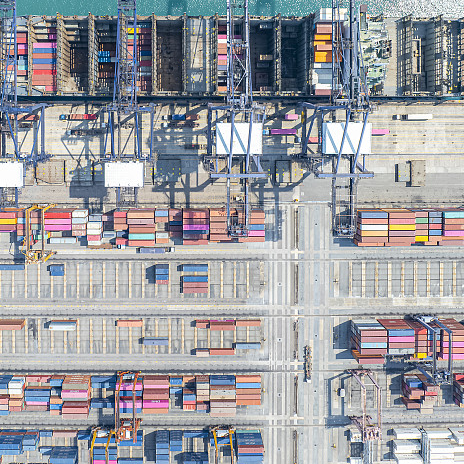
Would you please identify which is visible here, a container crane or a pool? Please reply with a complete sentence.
There is a container crane in the scene.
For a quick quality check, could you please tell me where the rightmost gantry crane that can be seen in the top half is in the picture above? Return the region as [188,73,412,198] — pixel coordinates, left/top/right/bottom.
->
[287,0,373,237]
